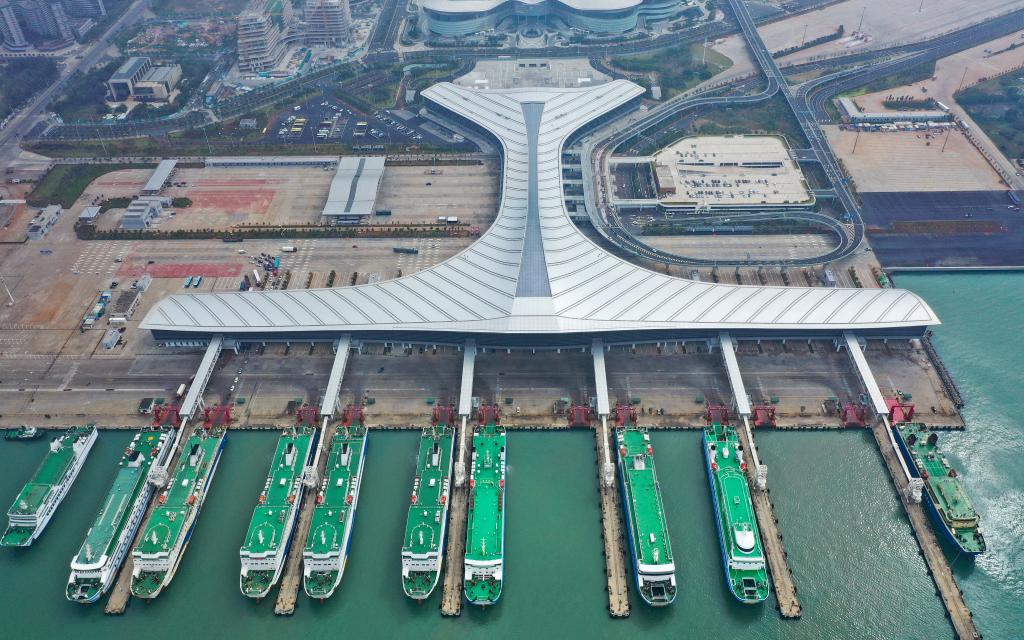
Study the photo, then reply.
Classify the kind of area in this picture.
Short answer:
port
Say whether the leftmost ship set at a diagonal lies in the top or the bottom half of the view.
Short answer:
bottom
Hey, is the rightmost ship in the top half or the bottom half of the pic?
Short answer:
bottom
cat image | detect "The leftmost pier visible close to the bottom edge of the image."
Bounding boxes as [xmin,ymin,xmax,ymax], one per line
[106,431,192,615]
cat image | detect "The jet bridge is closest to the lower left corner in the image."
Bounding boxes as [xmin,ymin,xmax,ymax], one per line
[145,337,237,491]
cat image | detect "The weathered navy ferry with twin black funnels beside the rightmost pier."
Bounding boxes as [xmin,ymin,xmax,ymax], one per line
[895,421,982,559]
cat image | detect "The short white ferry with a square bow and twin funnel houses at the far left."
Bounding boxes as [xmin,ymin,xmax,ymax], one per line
[0,424,100,548]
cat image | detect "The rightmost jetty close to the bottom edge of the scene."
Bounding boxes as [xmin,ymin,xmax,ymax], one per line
[866,428,984,640]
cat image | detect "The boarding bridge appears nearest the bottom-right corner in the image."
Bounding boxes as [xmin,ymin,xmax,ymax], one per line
[843,335,925,505]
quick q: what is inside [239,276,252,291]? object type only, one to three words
vehicle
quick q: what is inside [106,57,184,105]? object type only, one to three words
building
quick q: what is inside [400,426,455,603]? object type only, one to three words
ship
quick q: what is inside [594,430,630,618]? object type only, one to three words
pier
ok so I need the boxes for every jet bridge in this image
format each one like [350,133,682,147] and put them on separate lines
[304,339,364,491]
[145,337,237,491]
[591,342,619,493]
[843,335,925,505]
[720,338,769,495]
[453,344,489,491]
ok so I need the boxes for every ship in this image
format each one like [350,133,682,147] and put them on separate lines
[241,426,317,602]
[616,425,676,609]
[68,426,176,604]
[0,424,100,548]
[464,425,507,608]
[130,428,227,602]
[303,426,366,602]
[702,425,770,606]
[895,421,982,559]
[400,426,455,603]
